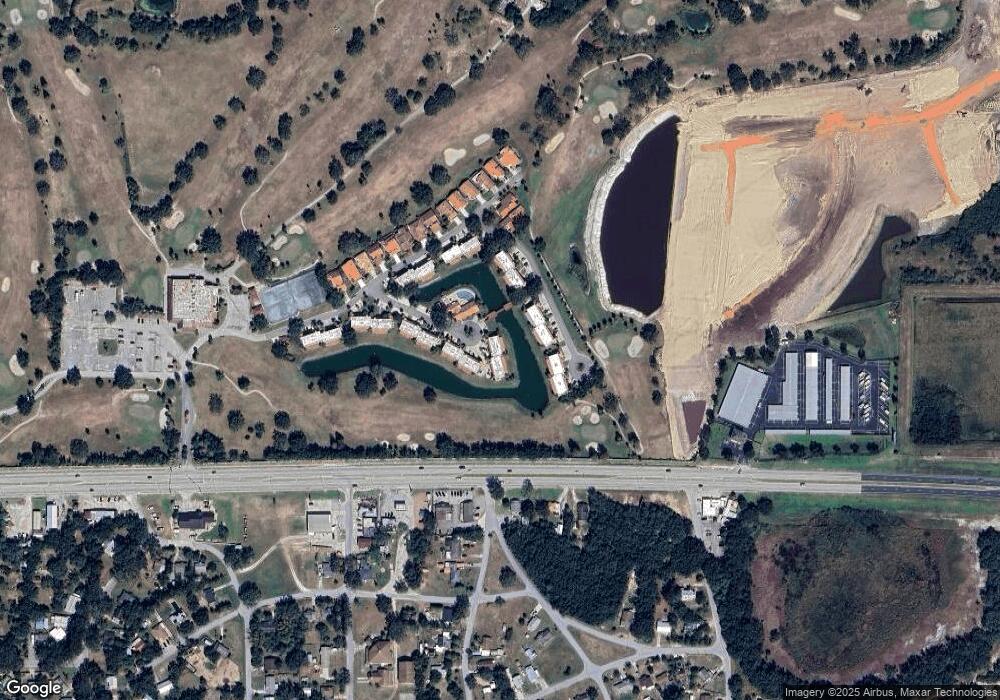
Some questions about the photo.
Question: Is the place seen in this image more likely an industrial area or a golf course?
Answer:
golf course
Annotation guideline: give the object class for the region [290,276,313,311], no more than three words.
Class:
tennis court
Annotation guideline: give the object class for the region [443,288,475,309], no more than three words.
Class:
swimming pool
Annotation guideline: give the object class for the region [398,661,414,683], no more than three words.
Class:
house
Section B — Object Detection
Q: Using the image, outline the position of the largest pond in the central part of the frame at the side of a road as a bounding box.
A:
[302,261,547,411]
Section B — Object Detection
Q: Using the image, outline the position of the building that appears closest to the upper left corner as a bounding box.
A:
[167,277,219,327]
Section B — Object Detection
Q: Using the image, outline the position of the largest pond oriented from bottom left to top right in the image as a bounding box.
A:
[827,216,912,311]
